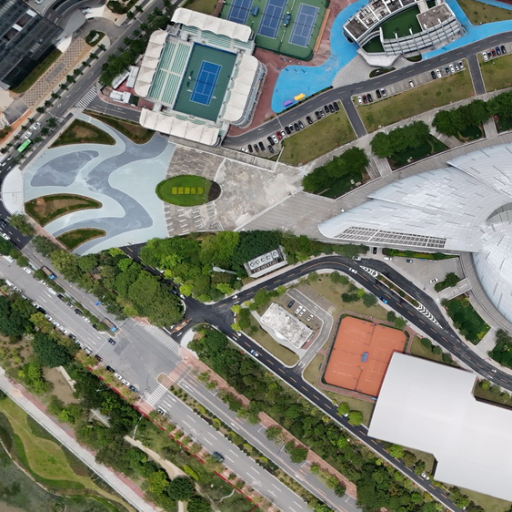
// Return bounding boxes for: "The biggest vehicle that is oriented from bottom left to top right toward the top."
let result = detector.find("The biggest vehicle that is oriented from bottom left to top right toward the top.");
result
[10,135,33,155]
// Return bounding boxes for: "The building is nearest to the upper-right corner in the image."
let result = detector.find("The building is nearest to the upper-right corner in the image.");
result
[344,0,465,67]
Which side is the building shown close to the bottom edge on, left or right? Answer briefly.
right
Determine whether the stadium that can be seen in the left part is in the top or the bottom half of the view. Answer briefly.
top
